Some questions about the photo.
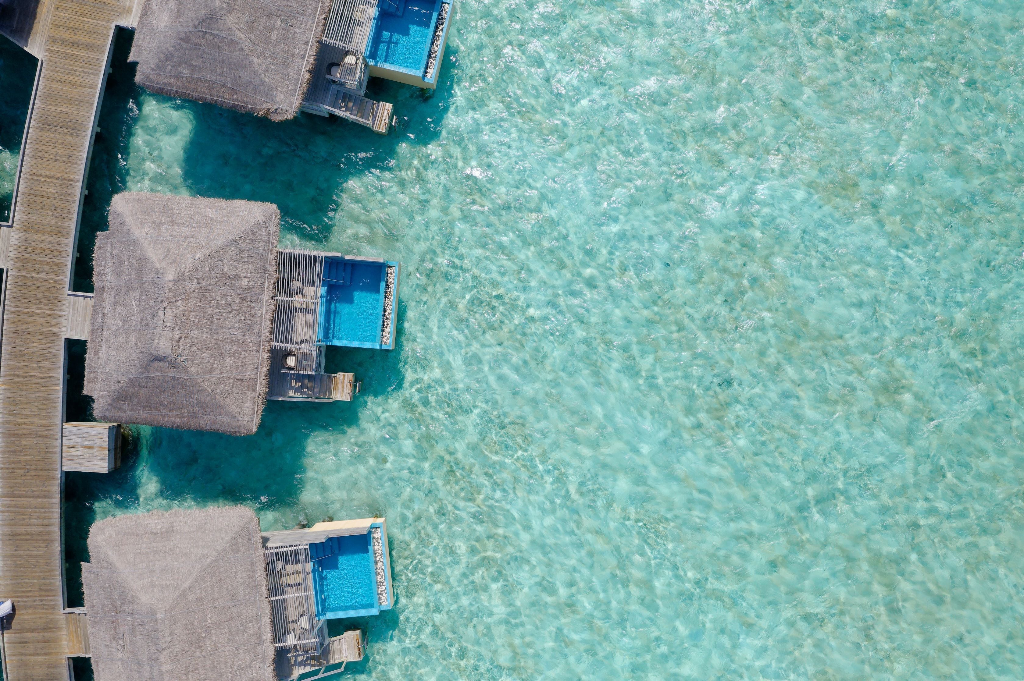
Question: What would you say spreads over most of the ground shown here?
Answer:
water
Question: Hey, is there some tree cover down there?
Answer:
No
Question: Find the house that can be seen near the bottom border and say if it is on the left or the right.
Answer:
left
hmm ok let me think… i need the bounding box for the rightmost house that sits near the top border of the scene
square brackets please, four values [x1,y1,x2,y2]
[126,0,330,129]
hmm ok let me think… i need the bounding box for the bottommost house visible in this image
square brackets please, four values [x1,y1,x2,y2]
[80,502,281,681]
